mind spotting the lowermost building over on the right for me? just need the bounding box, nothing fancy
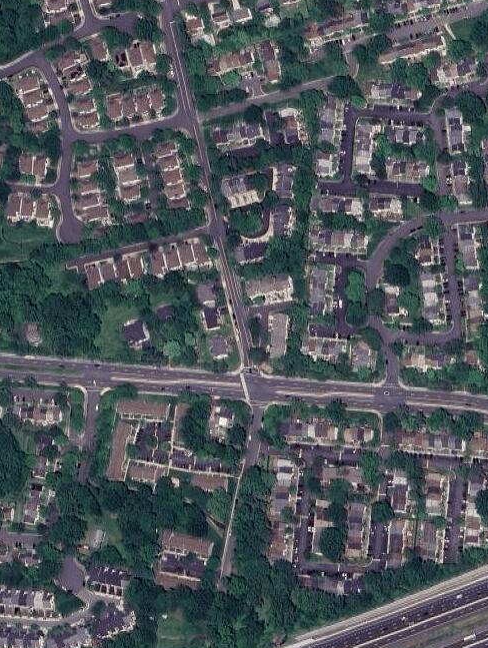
[298,575,366,597]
